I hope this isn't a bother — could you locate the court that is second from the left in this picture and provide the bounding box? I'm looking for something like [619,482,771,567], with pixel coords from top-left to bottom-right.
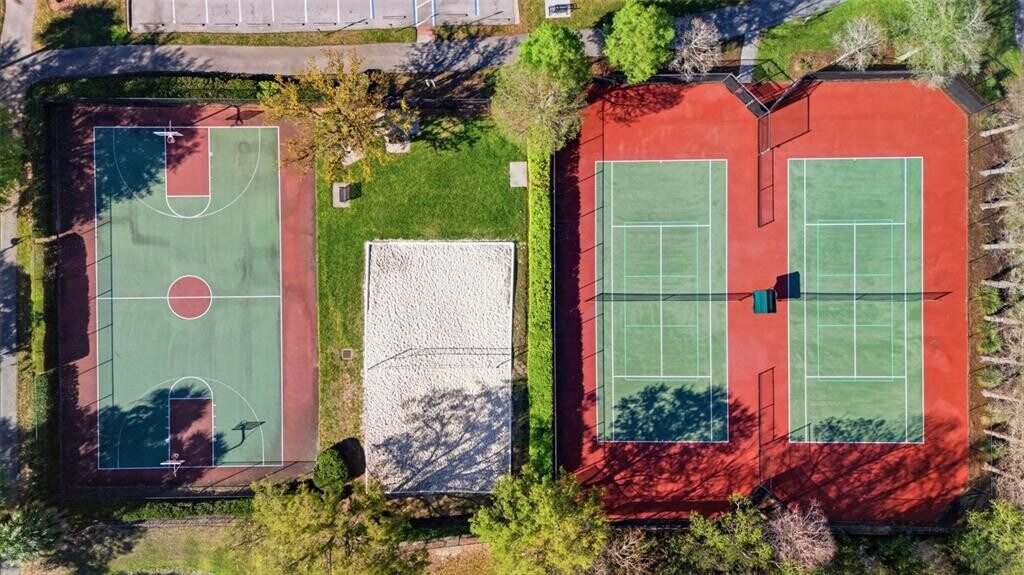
[364,240,516,495]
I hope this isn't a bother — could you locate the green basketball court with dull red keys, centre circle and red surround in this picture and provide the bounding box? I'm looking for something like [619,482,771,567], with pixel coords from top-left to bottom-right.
[59,105,319,488]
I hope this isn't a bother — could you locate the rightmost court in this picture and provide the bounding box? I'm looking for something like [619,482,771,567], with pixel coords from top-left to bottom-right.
[758,80,970,523]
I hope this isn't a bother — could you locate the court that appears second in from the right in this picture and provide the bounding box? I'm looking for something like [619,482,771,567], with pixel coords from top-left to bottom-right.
[555,82,761,523]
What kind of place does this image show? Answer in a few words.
sports ground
